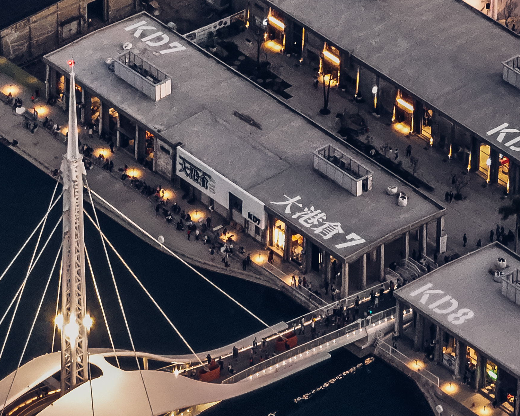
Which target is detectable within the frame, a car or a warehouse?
warehouse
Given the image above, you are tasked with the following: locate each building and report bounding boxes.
[0,0,148,64]
[44,9,447,291]
[395,239,520,410]
[229,0,520,196]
